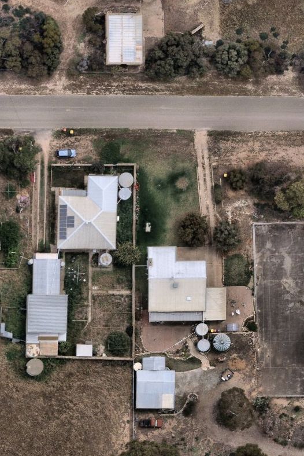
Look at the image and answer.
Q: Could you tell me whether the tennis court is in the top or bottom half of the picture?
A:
bottom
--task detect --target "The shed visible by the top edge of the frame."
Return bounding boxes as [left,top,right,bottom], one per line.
[105,11,145,65]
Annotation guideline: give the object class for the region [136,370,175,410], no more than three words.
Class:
shed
